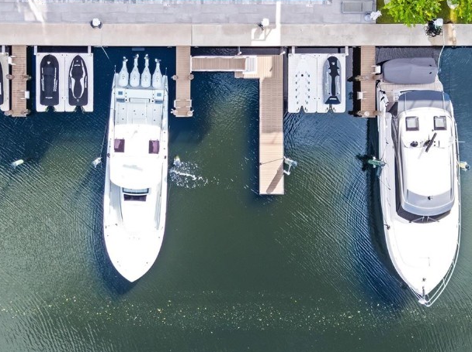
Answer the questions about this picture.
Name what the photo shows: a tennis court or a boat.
boat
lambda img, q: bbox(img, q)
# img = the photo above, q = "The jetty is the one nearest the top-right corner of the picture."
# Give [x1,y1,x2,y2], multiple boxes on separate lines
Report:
[350,47,397,117]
